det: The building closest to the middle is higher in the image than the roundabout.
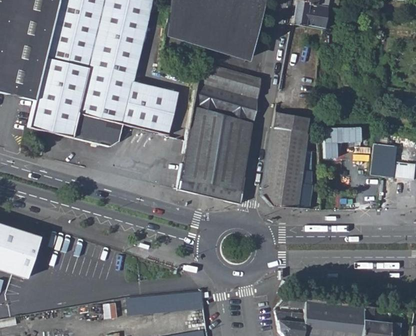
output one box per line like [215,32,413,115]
[180,108,253,205]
